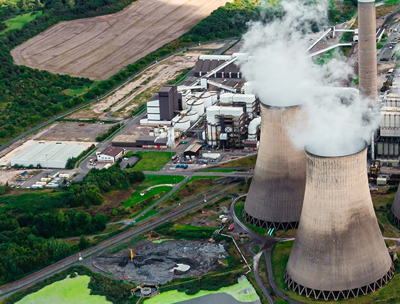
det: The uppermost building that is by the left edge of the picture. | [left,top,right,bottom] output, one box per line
[11,140,97,169]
